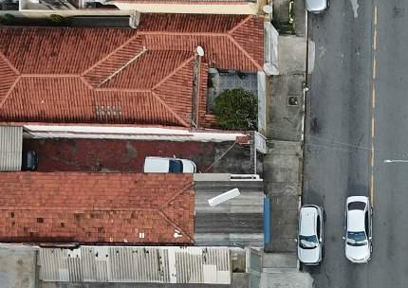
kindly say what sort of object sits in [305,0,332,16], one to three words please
car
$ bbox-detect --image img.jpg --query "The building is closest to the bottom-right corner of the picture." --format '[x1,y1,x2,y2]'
[193,173,279,252]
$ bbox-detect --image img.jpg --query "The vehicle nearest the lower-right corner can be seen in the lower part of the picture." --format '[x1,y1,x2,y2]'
[341,196,375,265]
